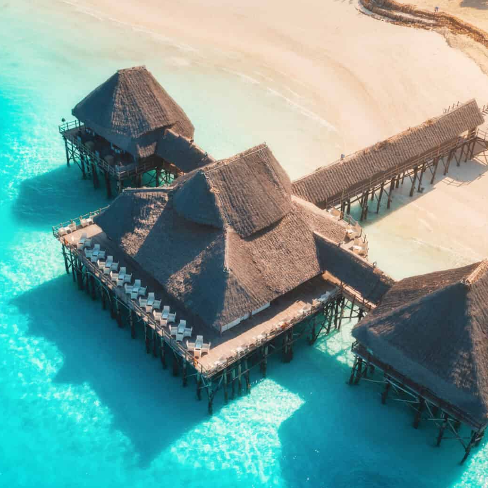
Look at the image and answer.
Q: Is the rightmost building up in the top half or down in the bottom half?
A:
bottom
